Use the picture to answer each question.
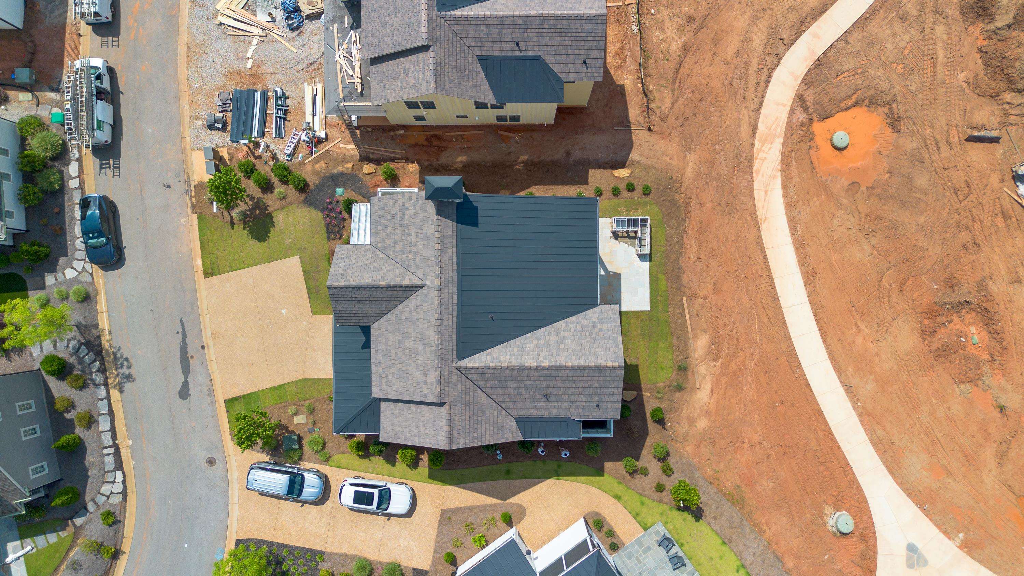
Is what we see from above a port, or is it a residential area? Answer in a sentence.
The picture captures a residential area.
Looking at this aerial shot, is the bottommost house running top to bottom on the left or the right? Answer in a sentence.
The bottommost house running top to bottom appears in the left half of the scene.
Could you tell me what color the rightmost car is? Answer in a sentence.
The color of the rightmost car is white.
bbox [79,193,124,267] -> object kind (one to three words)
car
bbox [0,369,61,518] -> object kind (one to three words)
house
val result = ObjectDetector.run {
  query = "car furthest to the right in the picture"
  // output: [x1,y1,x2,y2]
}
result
[338,476,415,519]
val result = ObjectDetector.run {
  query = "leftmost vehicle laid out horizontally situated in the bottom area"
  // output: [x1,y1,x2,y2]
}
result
[246,460,330,504]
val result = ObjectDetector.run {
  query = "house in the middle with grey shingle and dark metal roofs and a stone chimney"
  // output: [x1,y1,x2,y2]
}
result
[326,176,624,449]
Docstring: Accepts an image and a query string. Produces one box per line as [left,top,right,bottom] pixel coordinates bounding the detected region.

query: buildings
[0,369,61,518]
[326,176,624,449]
[0,116,28,247]
[324,0,608,128]
[0,0,25,30]
[447,516,625,576]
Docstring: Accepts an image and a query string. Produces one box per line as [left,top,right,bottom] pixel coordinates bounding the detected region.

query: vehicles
[79,193,124,267]
[246,460,330,504]
[64,59,119,148]
[64,0,118,31]
[338,476,415,519]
